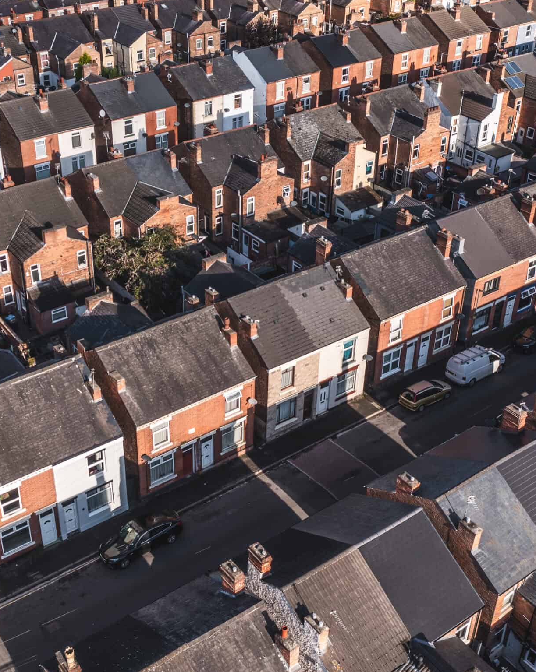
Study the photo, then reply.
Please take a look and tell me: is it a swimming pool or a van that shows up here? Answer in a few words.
van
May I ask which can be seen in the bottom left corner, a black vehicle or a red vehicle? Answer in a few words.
black vehicle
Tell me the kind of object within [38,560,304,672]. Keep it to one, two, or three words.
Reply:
house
